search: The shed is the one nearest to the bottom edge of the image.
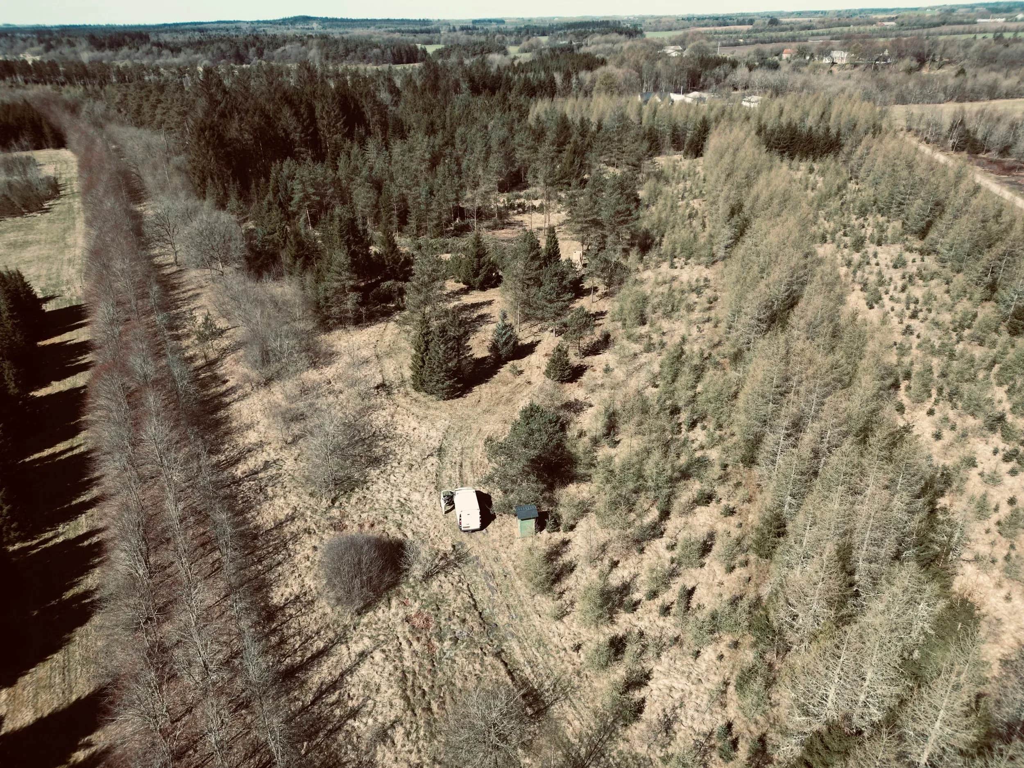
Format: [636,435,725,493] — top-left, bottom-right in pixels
[514,505,537,536]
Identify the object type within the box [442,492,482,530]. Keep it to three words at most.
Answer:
van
